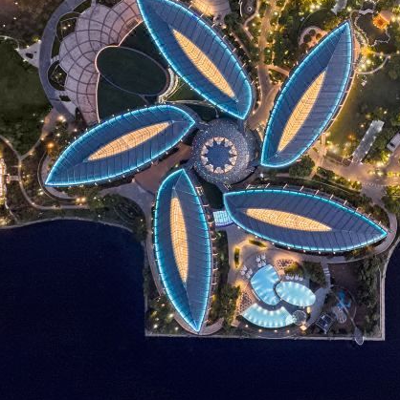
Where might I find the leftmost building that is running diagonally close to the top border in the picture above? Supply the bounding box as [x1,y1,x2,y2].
[133,0,255,122]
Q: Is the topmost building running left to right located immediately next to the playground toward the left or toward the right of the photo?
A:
right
